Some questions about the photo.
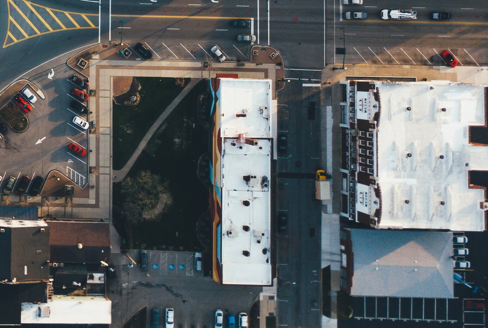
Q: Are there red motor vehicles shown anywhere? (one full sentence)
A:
Yes, a red motor vehicle is visible in the scene.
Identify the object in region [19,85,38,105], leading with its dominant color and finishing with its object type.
white car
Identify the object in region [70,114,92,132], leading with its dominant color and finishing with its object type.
white car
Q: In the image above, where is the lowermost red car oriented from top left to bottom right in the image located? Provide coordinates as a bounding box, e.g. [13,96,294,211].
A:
[66,141,89,158]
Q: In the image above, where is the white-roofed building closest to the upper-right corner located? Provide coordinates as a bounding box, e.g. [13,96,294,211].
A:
[341,75,488,232]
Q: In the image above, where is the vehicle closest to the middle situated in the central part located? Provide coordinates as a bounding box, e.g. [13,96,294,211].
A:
[277,131,289,153]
